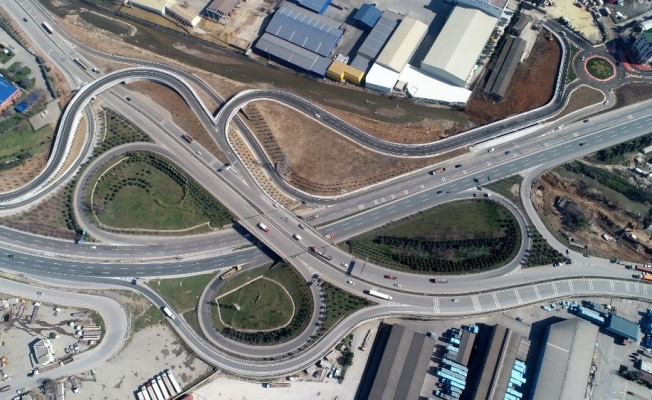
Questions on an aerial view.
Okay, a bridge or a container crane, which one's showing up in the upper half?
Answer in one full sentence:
Looking in the upper half, you will find a bridge.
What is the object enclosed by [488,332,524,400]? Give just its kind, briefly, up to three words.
building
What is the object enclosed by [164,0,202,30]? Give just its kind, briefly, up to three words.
building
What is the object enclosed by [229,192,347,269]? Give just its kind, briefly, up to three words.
bridge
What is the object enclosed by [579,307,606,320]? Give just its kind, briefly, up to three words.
vehicle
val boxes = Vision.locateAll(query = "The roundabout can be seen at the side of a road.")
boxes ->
[574,47,627,89]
